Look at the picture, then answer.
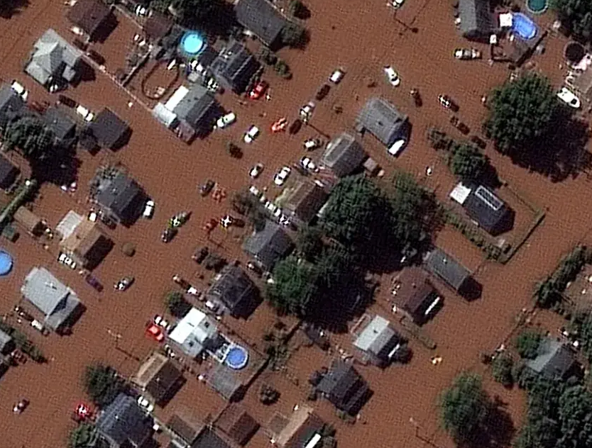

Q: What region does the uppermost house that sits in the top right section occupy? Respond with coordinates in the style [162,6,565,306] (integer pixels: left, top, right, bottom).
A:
[459,0,489,35]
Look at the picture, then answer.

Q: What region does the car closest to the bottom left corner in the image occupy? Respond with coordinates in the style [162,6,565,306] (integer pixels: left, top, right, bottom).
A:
[12,397,31,417]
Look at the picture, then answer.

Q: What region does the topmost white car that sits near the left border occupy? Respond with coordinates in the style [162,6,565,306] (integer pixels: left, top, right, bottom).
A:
[9,80,30,98]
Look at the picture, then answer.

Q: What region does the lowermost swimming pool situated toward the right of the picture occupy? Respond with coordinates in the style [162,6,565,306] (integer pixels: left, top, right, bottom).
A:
[511,14,538,38]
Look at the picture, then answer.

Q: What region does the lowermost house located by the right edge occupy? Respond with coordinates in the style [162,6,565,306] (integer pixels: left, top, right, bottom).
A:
[528,337,576,384]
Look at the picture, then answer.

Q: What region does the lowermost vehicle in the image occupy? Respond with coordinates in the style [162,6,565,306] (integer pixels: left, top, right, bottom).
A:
[303,431,324,448]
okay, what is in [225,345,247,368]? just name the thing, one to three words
swimming pool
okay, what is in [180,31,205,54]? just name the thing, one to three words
swimming pool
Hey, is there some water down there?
Yes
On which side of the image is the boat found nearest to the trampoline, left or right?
right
